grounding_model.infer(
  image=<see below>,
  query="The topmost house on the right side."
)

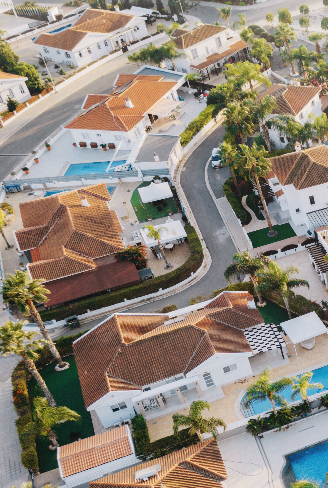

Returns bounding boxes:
[171,20,251,82]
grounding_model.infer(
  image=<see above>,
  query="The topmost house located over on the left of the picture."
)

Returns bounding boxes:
[34,3,149,65]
